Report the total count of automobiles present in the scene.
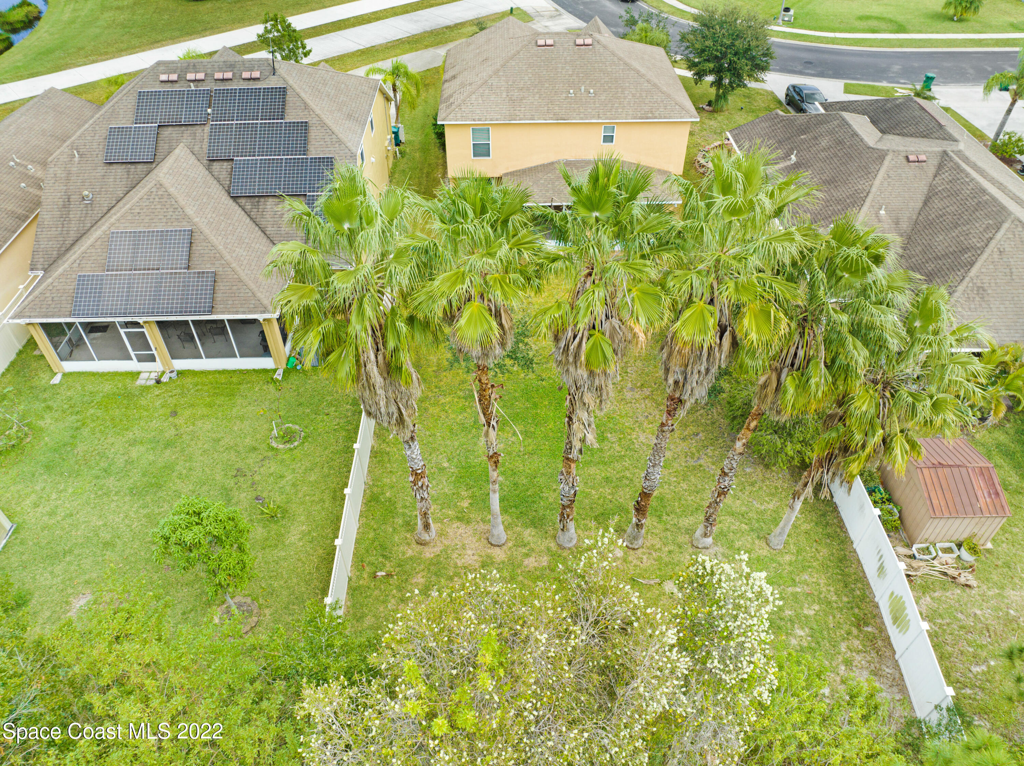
1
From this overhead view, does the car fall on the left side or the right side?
right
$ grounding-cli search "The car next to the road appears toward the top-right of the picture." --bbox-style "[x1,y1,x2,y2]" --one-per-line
[783,83,837,114]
